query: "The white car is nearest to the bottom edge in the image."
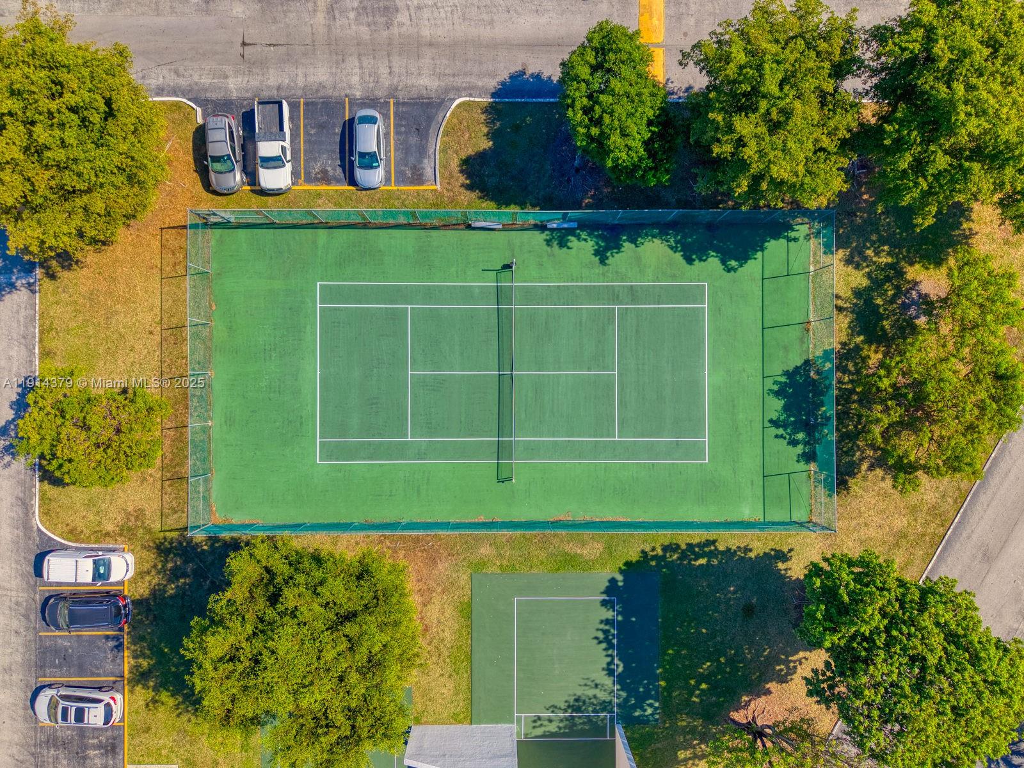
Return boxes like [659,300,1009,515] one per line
[36,683,123,728]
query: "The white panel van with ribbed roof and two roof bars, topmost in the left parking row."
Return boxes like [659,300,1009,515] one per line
[39,549,137,589]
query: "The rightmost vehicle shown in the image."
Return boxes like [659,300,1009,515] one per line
[349,110,386,190]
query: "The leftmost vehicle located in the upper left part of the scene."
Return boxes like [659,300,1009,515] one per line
[205,115,247,193]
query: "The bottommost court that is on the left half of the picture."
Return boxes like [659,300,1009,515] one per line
[260,688,412,768]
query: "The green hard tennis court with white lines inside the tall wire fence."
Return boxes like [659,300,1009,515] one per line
[212,225,811,522]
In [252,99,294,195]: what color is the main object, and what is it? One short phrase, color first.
white truck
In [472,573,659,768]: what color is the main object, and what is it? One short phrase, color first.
green sports court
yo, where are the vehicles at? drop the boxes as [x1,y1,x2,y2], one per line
[252,99,294,195]
[47,592,131,635]
[205,115,247,193]
[39,549,137,589]
[36,683,123,728]
[349,110,386,190]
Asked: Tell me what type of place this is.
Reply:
sports ground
